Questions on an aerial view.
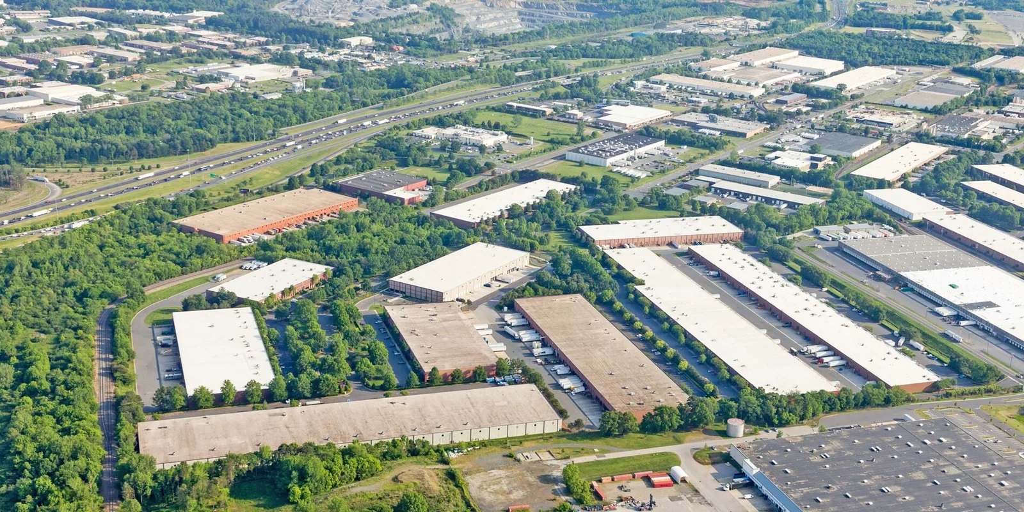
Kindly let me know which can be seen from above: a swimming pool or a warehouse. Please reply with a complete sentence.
It is a warehouse that can be seen here.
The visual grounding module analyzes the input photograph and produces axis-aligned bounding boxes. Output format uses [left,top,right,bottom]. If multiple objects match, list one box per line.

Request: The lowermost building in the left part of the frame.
[137,384,561,474]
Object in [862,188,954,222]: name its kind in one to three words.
building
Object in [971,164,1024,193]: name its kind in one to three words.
building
